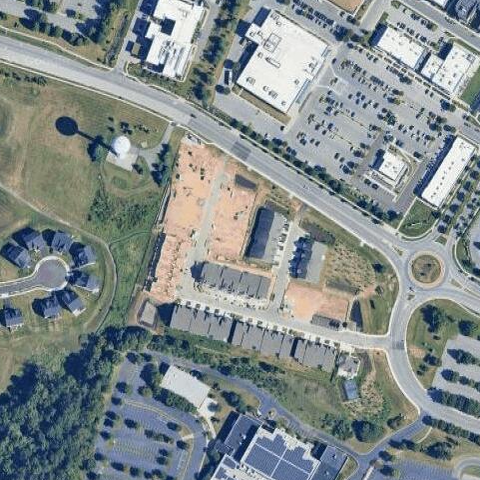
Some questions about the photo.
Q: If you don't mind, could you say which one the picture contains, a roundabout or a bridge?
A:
roundabout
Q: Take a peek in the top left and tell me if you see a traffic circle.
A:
No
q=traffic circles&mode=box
[396,238,459,300]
